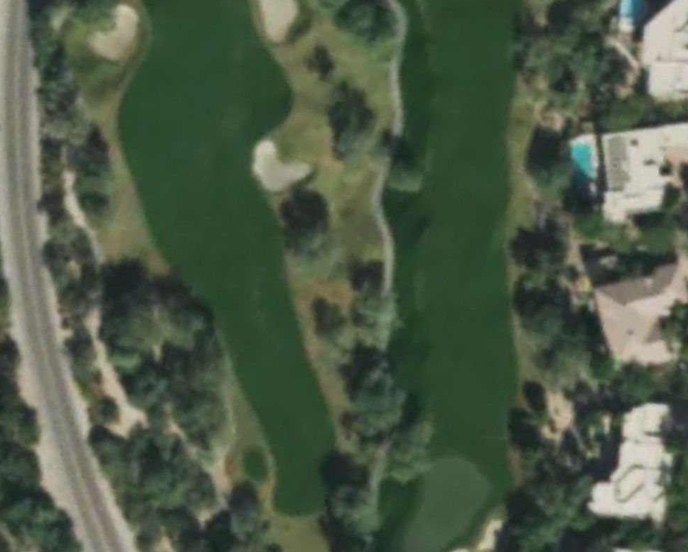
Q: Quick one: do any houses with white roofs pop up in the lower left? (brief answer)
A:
No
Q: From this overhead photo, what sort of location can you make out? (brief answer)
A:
golf course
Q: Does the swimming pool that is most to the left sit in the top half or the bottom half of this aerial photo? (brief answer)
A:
top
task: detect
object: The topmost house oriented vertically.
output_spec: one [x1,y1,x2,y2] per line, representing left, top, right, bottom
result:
[642,0,688,100]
